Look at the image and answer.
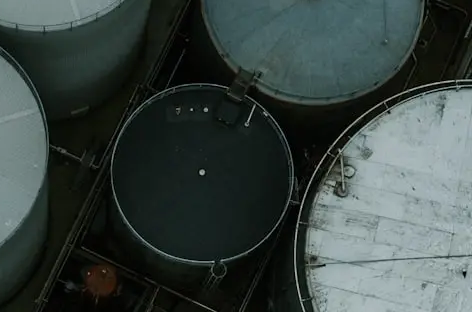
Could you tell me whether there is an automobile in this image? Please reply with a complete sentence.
No, there appears to be no automobile in this shot.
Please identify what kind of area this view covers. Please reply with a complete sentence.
This looks like an industrial area.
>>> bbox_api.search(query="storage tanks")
[0,0,149,121]
[187,0,425,144]
[0,44,49,307]
[281,80,472,312]
[102,82,297,293]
